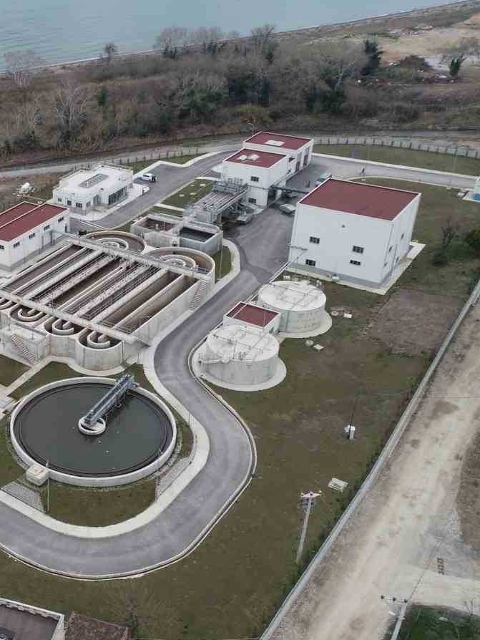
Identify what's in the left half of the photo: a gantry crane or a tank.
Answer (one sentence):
The one visible in the left half of the photo is a tank.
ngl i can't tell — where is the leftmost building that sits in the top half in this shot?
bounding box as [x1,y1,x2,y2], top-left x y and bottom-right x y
[0,203,68,265]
